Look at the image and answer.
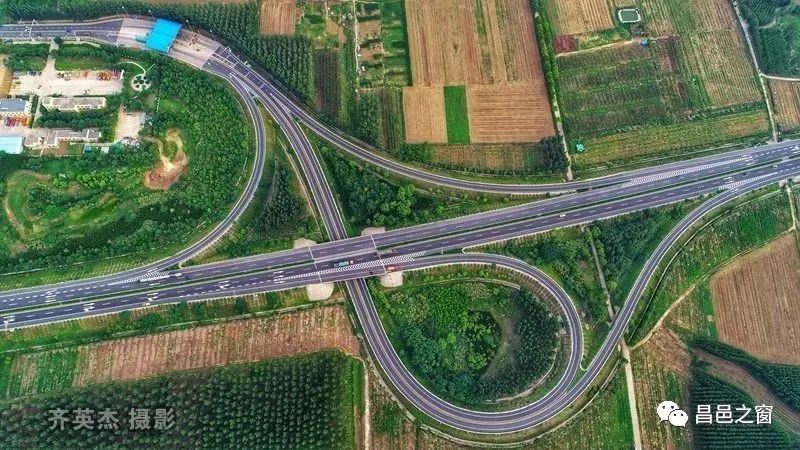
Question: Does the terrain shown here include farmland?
Yes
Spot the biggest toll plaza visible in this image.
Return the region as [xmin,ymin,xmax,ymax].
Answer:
[145,19,183,55]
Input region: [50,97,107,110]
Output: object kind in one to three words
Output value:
building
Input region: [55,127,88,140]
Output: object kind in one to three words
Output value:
building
